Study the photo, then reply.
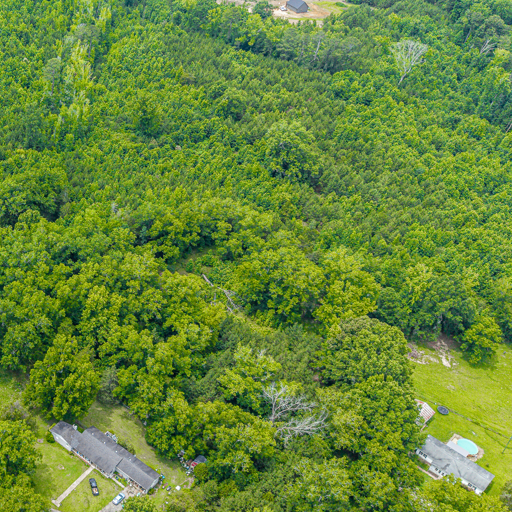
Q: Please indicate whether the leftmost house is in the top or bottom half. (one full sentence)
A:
You can find the leftmost house in the bottom half.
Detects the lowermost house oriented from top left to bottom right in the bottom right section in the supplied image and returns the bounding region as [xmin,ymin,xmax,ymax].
[413,428,490,492]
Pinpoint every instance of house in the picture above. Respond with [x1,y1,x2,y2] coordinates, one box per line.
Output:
[413,428,490,492]
[50,421,161,495]
[285,0,310,10]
